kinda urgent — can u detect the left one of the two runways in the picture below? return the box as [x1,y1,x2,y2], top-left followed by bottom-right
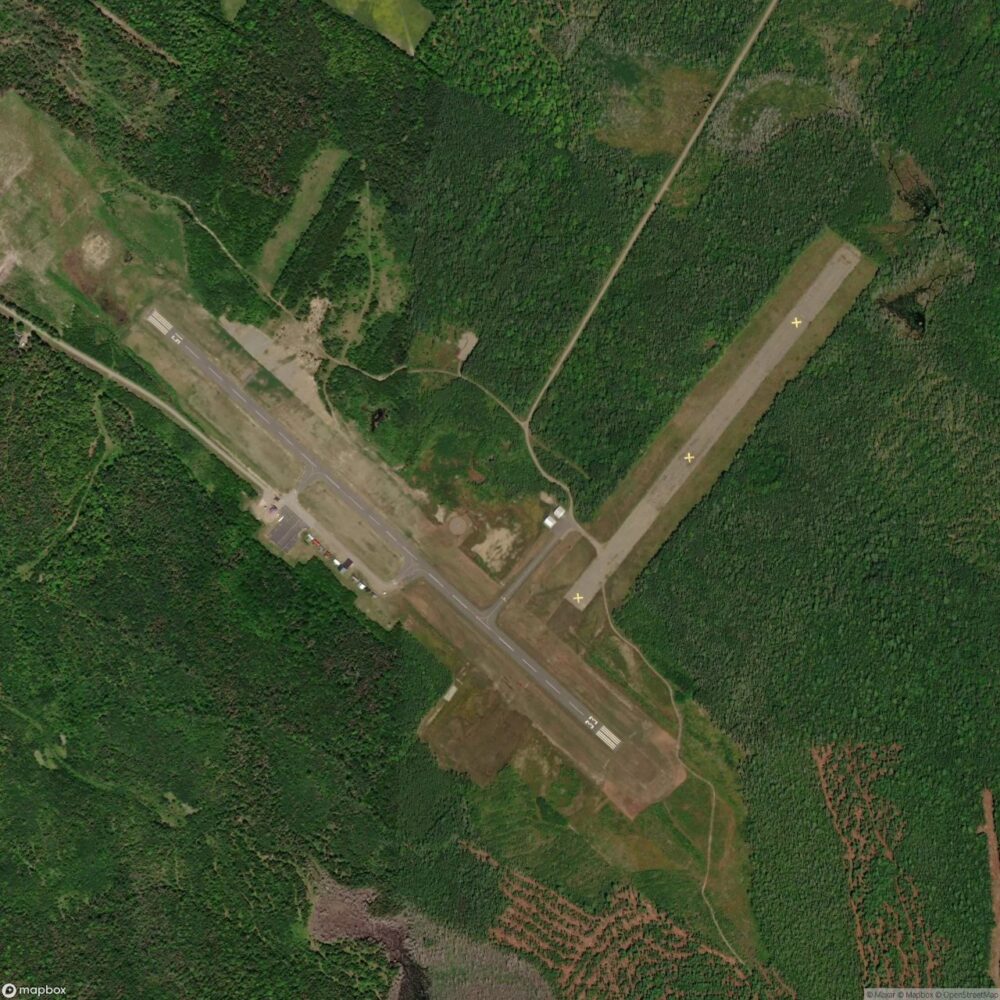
[145,308,624,753]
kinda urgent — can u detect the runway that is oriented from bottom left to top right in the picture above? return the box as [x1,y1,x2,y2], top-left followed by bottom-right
[564,244,860,609]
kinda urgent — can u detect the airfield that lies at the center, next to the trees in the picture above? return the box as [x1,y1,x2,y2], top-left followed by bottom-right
[142,244,860,756]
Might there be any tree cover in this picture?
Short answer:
Yes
